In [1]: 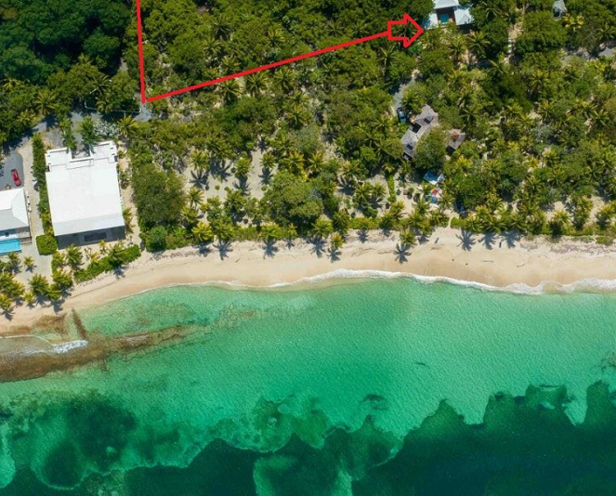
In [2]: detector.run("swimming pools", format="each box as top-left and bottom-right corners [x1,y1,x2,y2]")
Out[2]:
[439,11,450,23]
[0,238,22,254]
